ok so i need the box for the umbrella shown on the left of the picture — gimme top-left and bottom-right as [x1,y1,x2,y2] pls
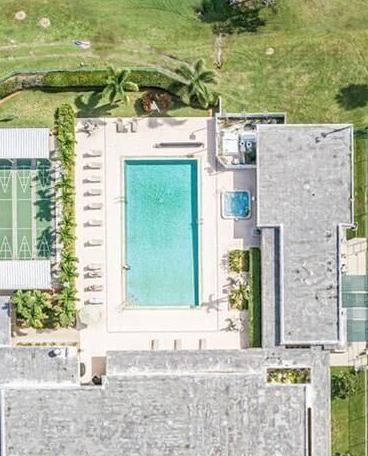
[78,304,97,323]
